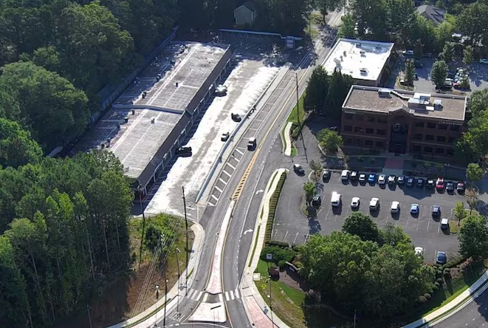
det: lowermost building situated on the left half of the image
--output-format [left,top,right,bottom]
[82,40,240,199]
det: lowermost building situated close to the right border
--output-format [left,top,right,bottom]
[341,85,470,156]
